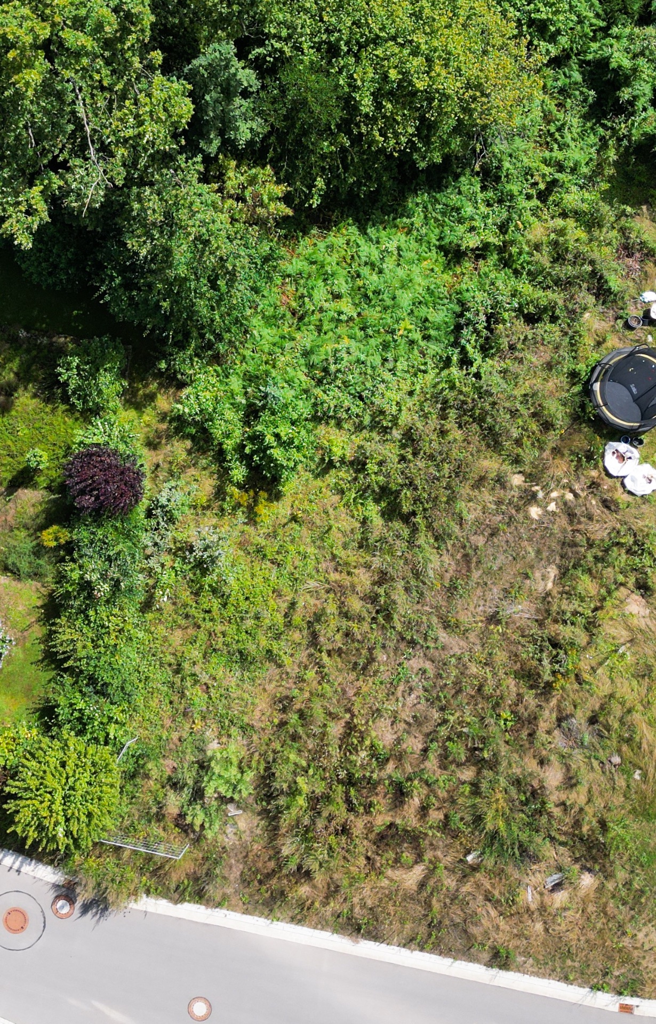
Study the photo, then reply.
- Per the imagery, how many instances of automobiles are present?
zero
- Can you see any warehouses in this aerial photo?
No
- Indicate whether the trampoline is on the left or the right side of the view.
right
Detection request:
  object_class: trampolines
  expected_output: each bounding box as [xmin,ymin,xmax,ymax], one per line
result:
[586,335,656,435]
